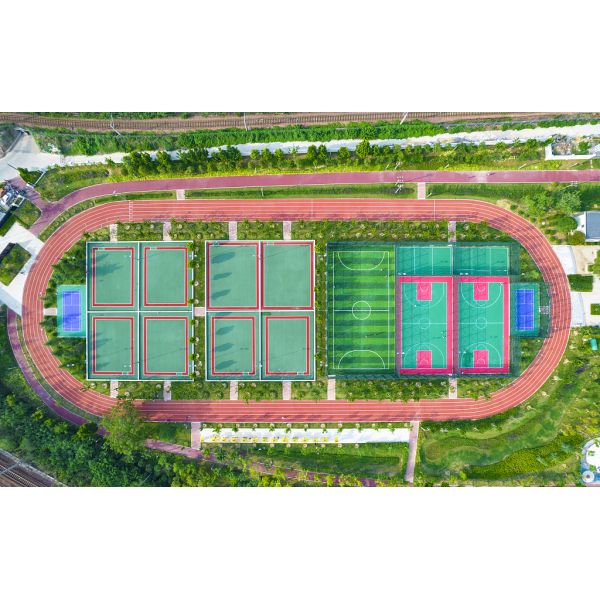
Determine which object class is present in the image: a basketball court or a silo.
basketball court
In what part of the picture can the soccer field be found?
center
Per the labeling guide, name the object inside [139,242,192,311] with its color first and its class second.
green sports court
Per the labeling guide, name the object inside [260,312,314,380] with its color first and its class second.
green sports court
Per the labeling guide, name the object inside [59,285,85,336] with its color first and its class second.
blue sports court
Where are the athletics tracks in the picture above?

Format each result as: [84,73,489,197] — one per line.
[21,199,572,422]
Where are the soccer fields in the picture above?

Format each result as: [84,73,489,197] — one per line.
[329,246,394,375]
